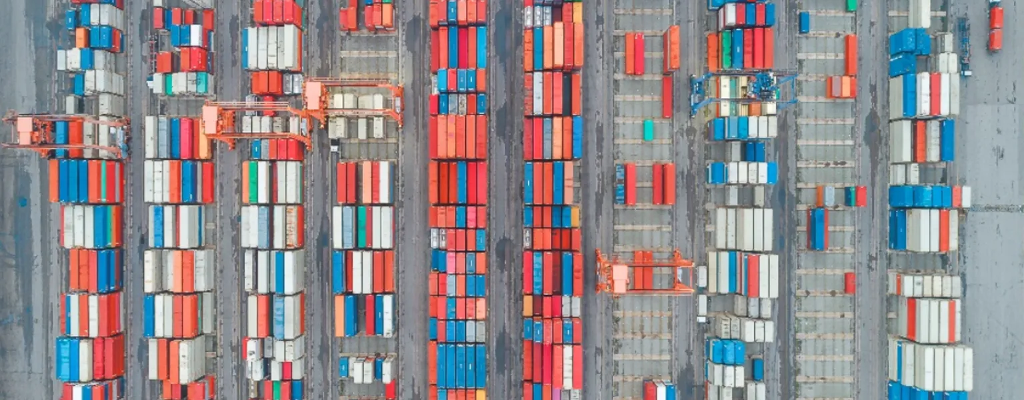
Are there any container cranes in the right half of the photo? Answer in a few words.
Yes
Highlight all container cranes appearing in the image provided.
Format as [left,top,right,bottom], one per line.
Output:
[689,67,799,118]
[0,112,129,160]
[301,78,405,129]
[594,249,694,298]
[201,101,312,150]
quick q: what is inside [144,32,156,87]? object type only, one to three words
vehicle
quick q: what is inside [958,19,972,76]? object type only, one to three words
vehicle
